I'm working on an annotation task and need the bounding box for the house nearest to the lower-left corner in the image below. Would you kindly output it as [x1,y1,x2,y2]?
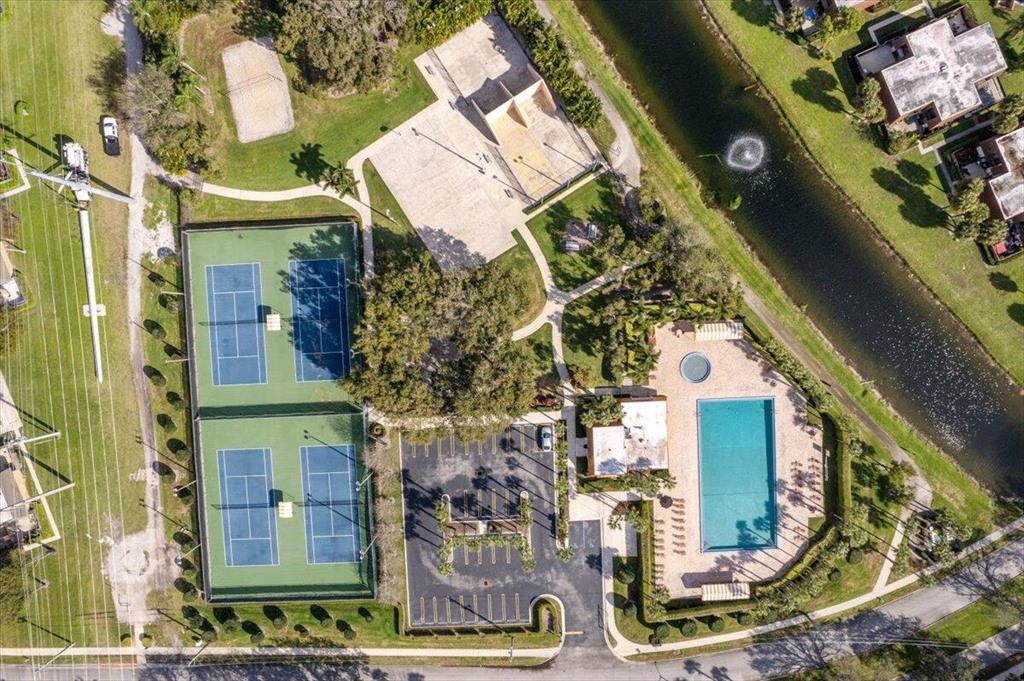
[0,442,40,509]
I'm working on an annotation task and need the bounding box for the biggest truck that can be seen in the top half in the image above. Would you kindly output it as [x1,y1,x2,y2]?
[55,141,89,204]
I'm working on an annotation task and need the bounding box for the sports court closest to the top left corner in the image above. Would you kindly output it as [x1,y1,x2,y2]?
[223,41,293,141]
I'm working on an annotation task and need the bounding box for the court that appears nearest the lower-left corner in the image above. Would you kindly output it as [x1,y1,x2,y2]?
[214,447,279,567]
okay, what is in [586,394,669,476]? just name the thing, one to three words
building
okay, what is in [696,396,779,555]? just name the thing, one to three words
swimming pool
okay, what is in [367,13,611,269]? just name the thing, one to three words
sports court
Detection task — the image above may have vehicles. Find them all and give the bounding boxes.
[99,119,118,153]
[541,427,551,450]
[55,141,89,204]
